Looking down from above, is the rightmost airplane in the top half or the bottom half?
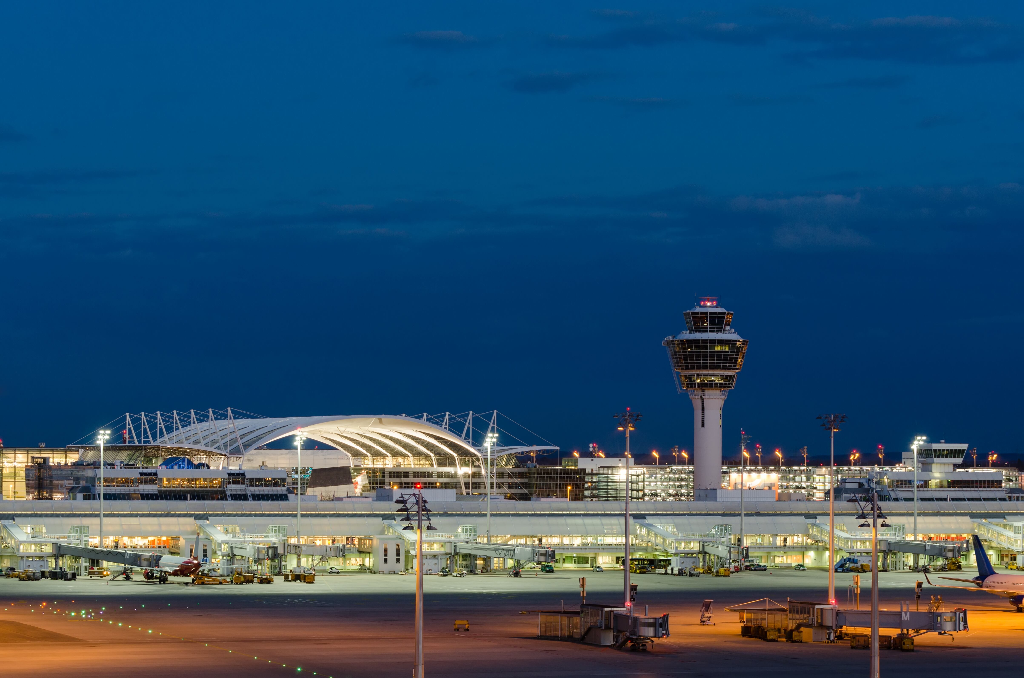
bottom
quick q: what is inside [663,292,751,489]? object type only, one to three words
building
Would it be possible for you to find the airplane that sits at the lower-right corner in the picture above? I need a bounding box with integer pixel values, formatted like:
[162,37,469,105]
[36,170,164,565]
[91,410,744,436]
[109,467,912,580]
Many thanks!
[942,534,1024,598]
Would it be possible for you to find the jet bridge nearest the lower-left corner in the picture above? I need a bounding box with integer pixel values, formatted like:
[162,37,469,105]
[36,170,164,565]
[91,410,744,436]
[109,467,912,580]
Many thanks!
[79,547,162,578]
